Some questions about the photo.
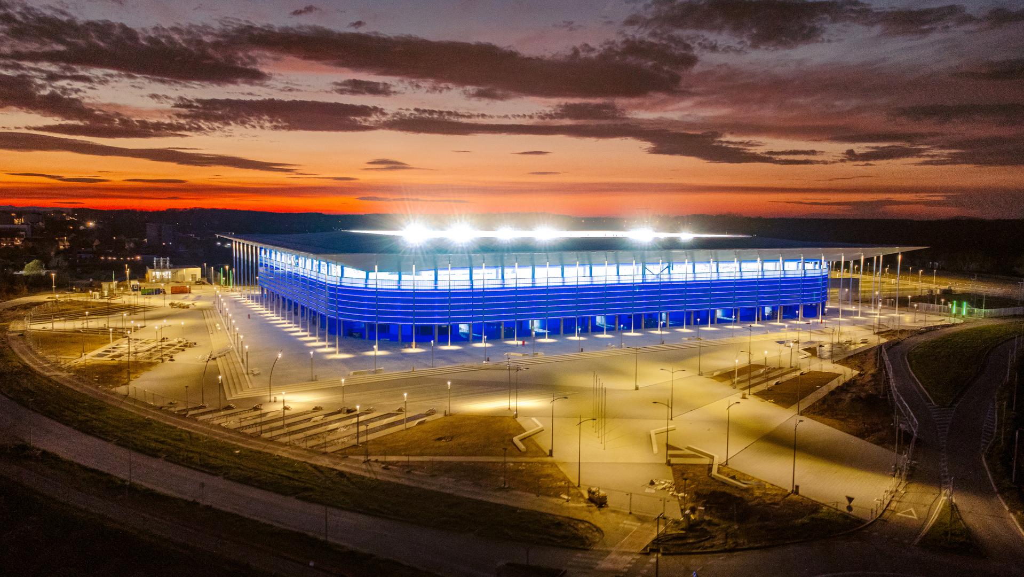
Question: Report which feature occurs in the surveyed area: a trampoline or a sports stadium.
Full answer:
This aerial view contains a sports stadium.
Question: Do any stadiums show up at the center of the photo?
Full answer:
Yes, a stadium can be seen at the center of the photo.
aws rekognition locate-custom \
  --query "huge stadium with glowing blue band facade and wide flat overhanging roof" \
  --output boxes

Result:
[216,230,928,355]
